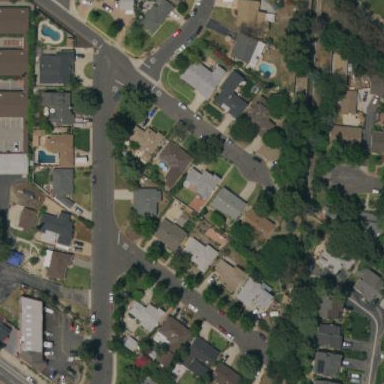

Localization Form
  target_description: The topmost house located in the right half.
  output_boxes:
[238,0,276,30]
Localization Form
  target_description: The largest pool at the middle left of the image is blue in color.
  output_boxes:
[38,149,55,164]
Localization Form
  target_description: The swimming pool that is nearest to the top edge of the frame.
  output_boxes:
[38,21,64,44]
